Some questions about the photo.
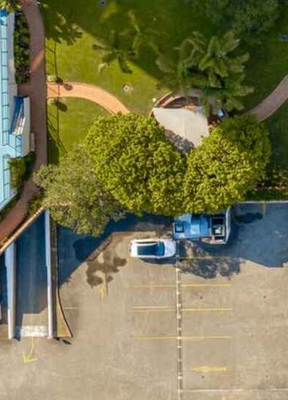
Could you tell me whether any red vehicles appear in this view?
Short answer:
No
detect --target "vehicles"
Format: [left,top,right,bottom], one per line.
[131,238,176,260]
[175,212,229,242]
